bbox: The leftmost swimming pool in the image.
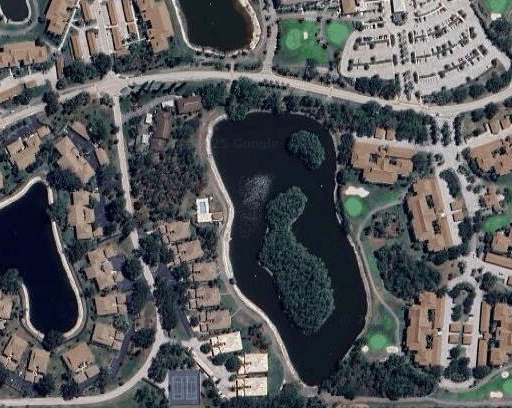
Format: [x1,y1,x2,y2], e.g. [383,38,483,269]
[196,200,212,223]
